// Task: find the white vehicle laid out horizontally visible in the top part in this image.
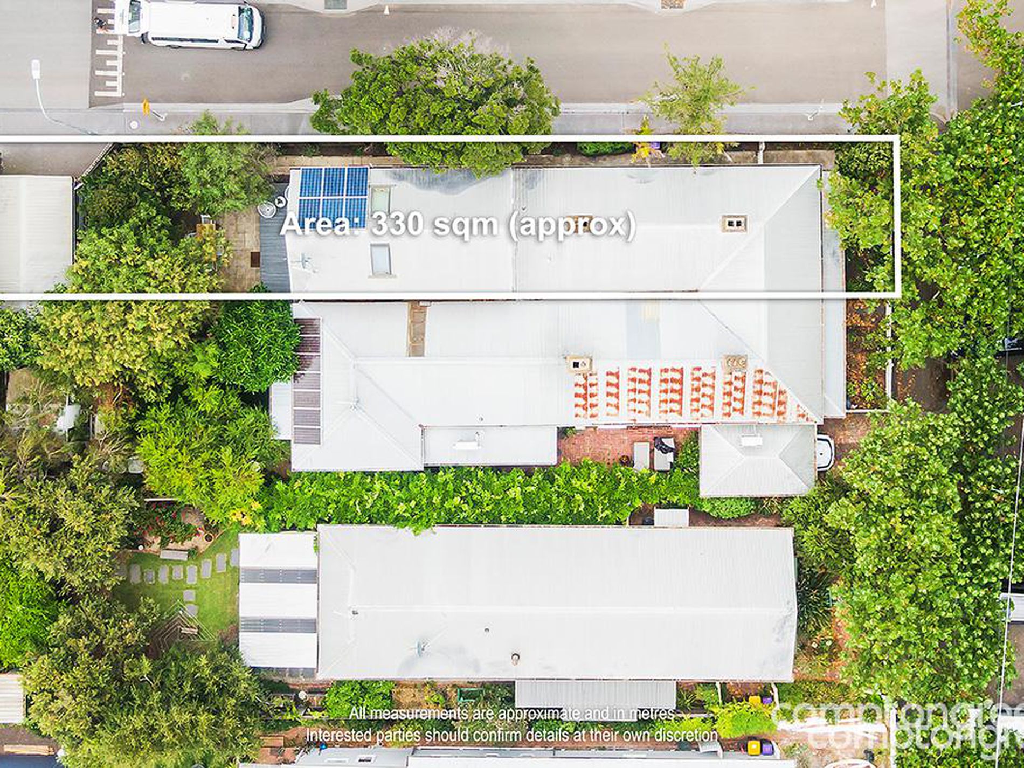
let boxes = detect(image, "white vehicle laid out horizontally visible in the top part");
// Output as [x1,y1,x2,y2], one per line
[114,0,267,53]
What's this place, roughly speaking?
residential area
